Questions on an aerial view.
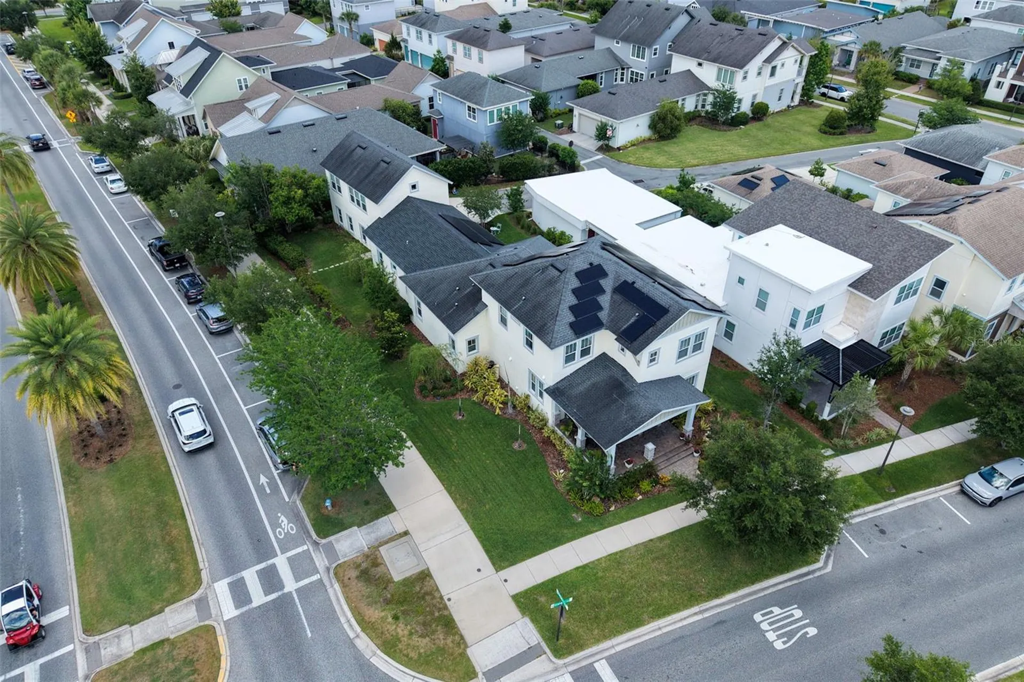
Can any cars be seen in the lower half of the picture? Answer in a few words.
Yes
